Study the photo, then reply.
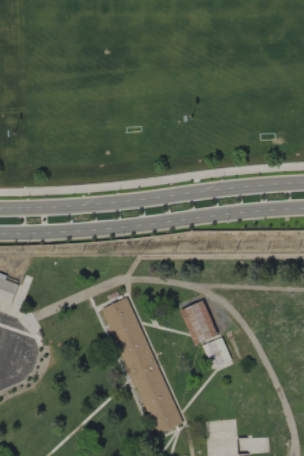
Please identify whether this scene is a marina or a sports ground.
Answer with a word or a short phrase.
sports ground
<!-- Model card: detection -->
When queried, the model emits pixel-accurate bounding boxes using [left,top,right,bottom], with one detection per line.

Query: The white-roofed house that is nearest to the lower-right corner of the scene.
[202,338,233,369]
